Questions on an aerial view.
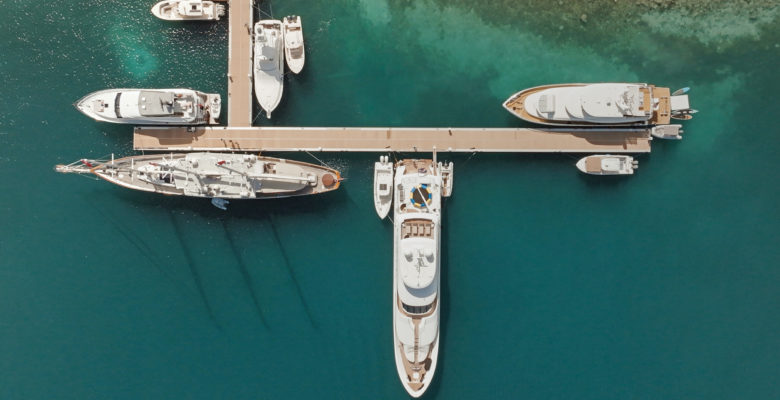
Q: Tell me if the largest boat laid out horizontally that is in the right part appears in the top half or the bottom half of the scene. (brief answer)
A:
top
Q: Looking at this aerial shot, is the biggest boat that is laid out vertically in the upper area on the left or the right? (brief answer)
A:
left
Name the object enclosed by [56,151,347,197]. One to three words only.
vessel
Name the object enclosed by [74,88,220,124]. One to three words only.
boat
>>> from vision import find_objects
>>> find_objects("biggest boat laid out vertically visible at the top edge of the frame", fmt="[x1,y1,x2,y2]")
[254,19,284,119]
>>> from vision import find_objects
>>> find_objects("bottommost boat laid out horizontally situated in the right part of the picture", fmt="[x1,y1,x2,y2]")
[577,155,638,174]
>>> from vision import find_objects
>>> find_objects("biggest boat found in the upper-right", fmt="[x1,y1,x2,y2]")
[502,84,672,127]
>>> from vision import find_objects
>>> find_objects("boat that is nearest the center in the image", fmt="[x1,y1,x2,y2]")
[375,156,393,219]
